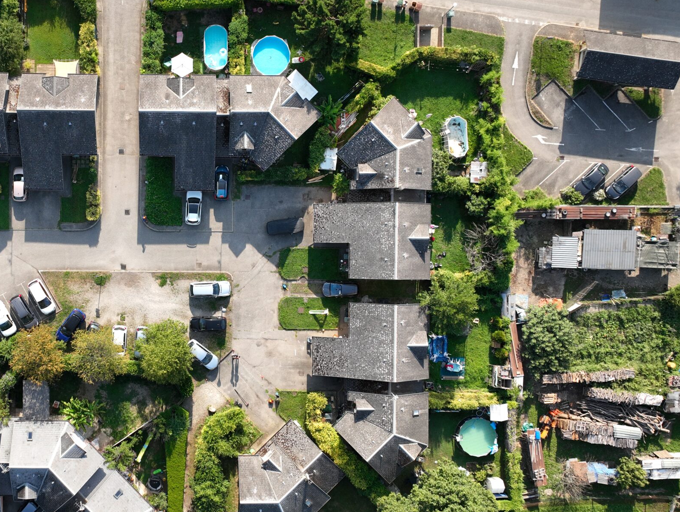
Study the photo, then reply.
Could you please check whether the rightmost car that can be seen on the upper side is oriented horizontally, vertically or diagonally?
diagonally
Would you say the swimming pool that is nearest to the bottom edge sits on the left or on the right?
right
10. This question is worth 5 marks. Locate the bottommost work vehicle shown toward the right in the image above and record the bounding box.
[530,403,560,437]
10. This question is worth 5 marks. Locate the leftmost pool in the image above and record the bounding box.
[203,25,228,74]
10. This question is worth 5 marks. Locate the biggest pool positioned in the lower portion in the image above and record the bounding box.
[448,414,497,456]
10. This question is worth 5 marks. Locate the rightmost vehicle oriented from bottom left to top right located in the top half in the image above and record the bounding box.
[603,162,644,202]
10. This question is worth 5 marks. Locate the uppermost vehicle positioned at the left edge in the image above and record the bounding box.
[9,168,29,201]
